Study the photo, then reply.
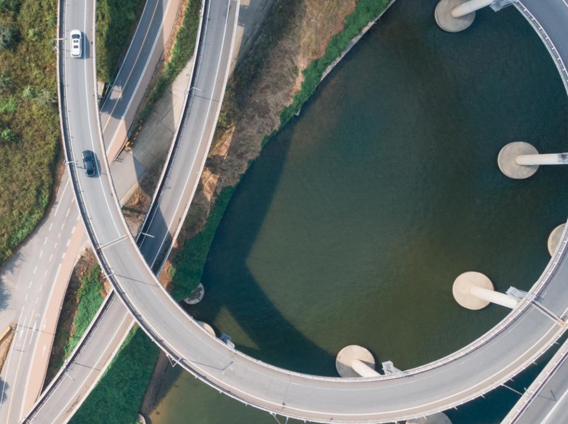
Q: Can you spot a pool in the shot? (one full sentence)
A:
No, the photo shows no pool.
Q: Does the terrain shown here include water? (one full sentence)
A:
Yes, the picture does contain water.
